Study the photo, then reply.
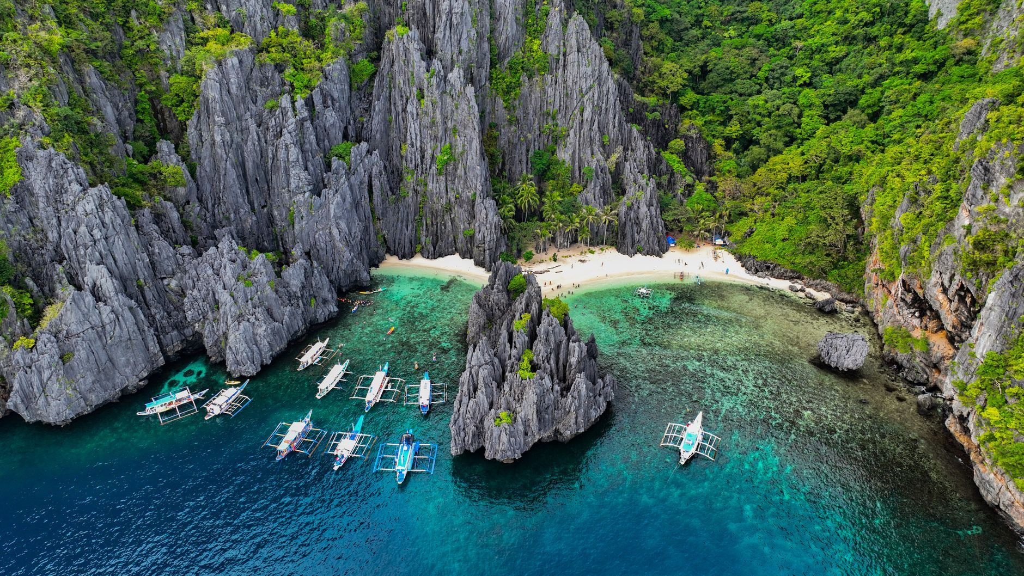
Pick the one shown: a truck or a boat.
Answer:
boat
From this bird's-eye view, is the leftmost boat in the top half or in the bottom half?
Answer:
bottom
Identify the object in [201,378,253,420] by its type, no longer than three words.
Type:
boat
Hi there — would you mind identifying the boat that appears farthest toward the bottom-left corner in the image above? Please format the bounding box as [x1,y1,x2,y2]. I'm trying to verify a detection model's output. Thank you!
[136,385,209,424]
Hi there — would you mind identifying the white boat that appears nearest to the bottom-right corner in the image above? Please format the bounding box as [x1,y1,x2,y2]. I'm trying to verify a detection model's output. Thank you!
[660,411,721,468]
